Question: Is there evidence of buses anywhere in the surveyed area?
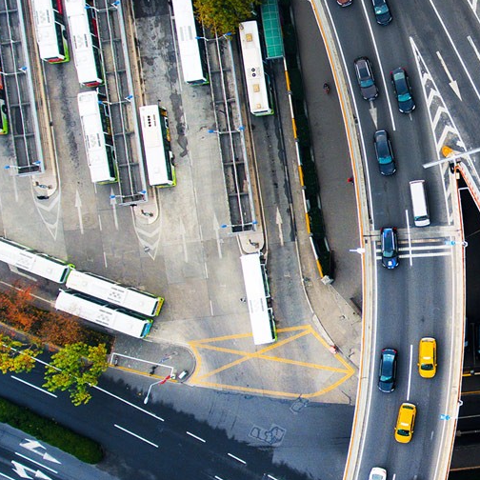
Yes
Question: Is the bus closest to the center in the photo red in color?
No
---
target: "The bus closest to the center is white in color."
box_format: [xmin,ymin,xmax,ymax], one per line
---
[241,249,281,343]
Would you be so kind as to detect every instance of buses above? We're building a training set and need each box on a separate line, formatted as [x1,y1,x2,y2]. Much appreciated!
[241,249,281,343]
[139,102,177,187]
[174,0,210,87]
[0,235,79,286]
[35,0,74,66]
[57,289,161,341]
[77,88,117,185]
[238,18,276,118]
[68,0,105,89]
[67,268,172,318]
